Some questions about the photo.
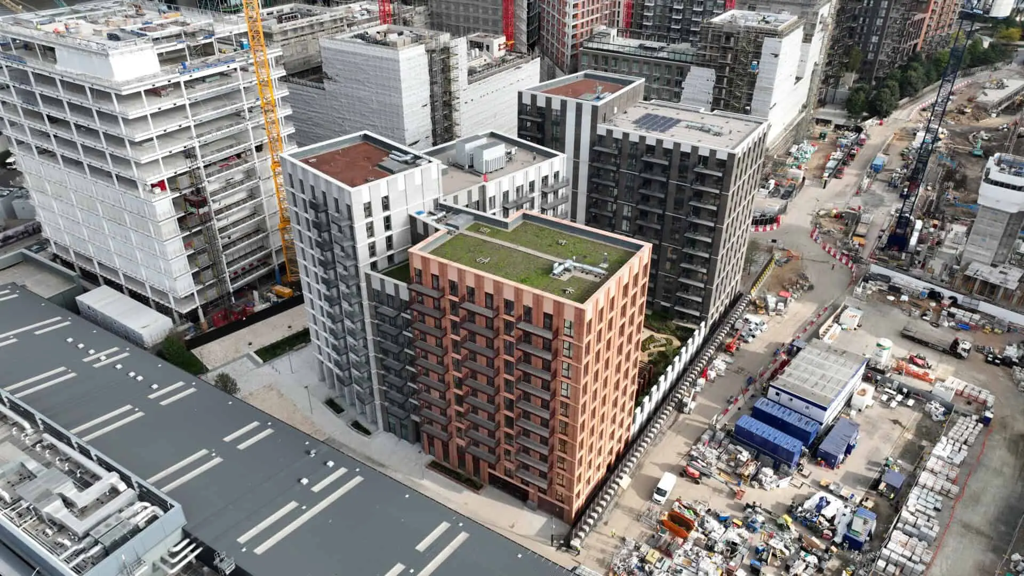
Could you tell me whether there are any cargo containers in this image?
Yes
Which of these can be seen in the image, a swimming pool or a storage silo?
storage silo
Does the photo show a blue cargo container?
Yes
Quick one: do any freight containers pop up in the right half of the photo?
Yes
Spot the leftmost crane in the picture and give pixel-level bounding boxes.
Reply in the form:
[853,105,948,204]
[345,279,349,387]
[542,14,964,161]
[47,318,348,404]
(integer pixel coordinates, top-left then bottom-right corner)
[244,0,303,285]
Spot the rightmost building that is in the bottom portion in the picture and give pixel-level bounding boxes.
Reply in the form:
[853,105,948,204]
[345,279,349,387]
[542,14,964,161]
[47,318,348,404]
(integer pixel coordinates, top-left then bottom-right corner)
[766,338,861,433]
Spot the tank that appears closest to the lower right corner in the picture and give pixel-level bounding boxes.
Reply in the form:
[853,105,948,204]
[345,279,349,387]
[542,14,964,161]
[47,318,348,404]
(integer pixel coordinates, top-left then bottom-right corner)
[849,389,877,418]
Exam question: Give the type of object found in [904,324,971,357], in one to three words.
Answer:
truck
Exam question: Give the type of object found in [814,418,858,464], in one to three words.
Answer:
shipping container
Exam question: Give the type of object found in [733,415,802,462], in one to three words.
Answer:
shipping container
